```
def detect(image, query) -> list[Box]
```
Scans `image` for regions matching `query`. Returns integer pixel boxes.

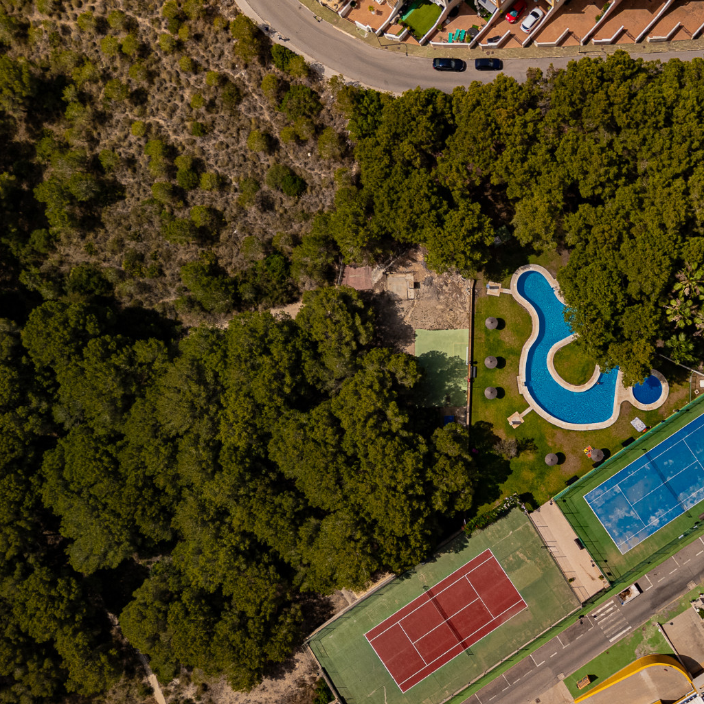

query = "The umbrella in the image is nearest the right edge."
[590,449,603,461]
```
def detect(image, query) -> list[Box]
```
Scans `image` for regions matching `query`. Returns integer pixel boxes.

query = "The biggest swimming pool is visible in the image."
[510,264,669,430]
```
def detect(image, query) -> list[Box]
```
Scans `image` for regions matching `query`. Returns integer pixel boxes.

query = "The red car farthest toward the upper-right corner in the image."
[503,0,527,20]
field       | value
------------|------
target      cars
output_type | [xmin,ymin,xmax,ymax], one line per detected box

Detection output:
[474,54,501,70]
[432,55,464,71]
[503,0,527,20]
[519,4,544,31]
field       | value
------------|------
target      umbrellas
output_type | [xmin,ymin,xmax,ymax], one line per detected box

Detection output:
[590,449,603,461]
[484,386,497,400]
[484,356,498,369]
[544,453,558,466]
[485,317,498,331]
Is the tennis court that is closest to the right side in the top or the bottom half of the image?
bottom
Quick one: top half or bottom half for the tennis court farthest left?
bottom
